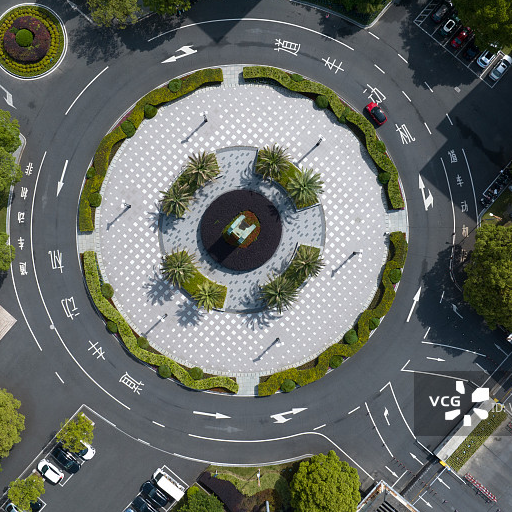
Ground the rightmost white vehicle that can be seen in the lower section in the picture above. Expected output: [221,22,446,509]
[149,469,188,509]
